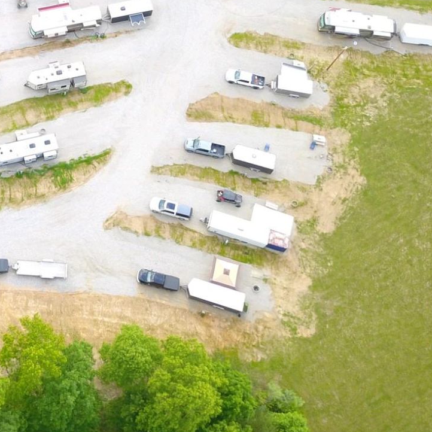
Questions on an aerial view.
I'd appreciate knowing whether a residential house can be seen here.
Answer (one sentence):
No, the frame has no residential house in it.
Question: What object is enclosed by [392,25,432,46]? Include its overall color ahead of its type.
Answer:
white trailer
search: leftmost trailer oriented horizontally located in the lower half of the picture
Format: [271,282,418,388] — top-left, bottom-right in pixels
[11,258,66,279]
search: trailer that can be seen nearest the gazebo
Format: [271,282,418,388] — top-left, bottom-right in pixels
[180,278,246,313]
